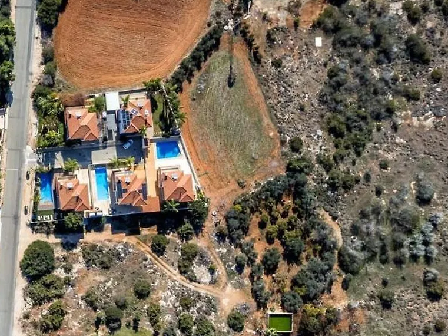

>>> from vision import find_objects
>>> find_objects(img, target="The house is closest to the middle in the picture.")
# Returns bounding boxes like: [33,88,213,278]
[159,165,194,202]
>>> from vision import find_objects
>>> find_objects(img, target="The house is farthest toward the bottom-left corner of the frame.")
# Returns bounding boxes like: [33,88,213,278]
[56,174,90,211]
